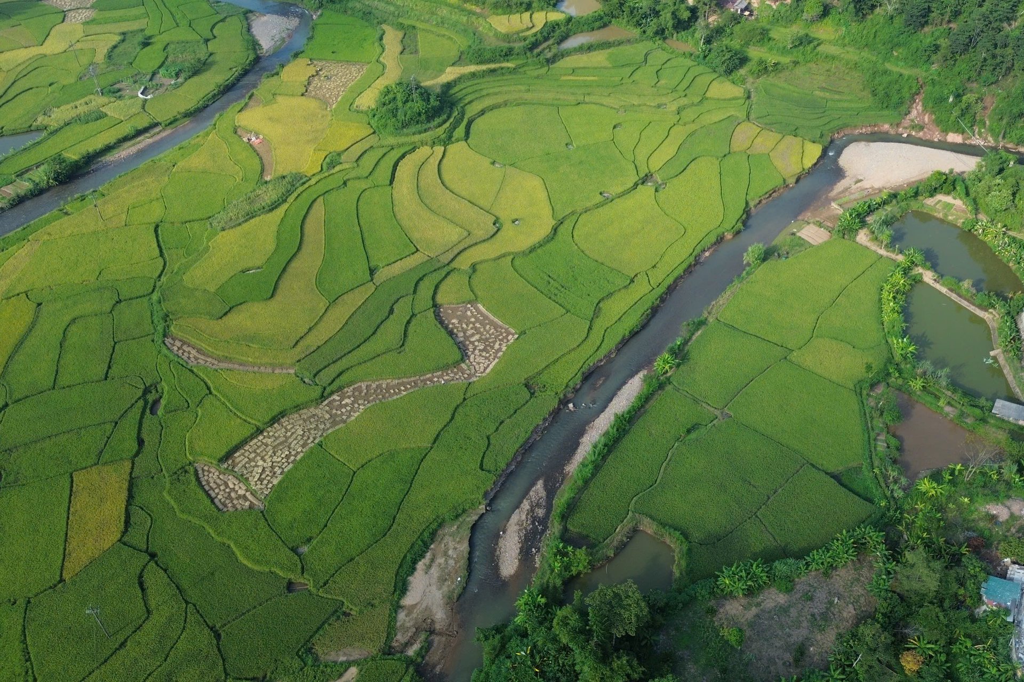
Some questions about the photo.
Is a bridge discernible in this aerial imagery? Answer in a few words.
No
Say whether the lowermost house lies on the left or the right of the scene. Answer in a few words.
right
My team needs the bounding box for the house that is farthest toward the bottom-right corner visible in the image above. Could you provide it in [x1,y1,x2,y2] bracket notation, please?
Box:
[980,575,1024,613]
